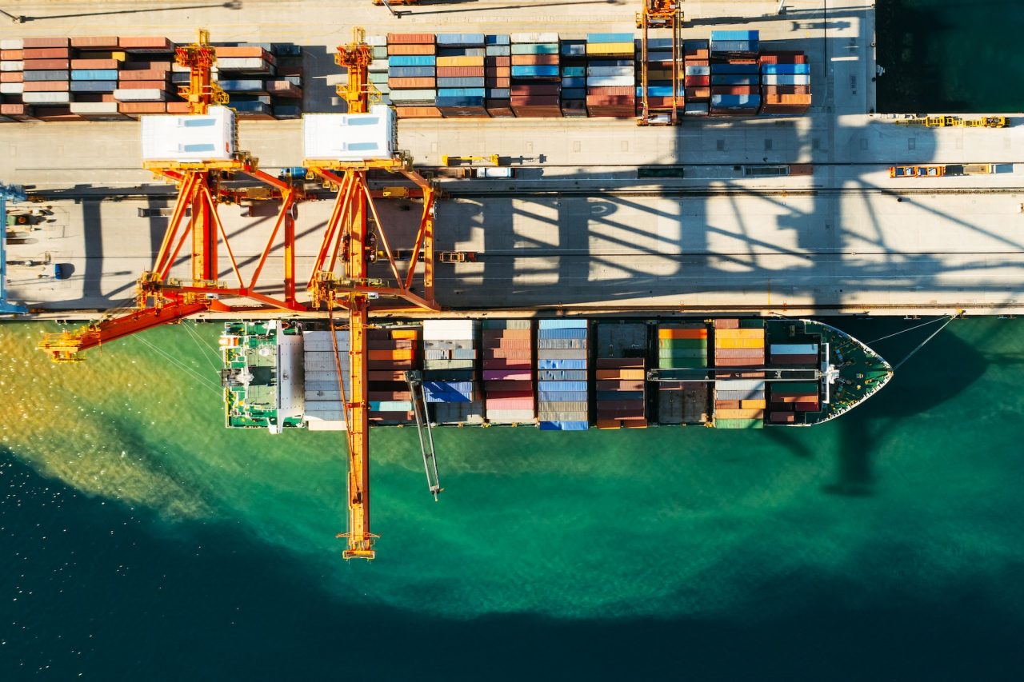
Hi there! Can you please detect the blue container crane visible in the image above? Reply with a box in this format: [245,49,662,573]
[0,177,50,313]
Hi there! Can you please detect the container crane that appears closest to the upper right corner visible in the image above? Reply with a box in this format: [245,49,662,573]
[634,0,682,124]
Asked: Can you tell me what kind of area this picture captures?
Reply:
port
